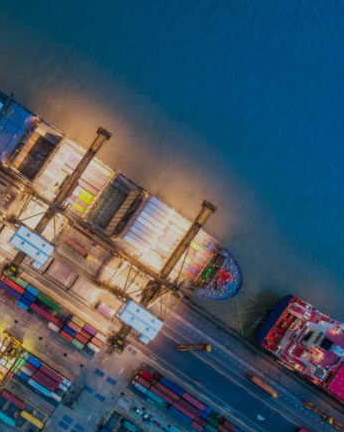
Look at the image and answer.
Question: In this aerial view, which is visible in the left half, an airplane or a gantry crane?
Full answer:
The feature located in the left half is a gantry crane.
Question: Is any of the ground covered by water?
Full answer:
Yes, there is water in the image.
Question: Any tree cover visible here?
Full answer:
No, the scene doesn't show any tree cover.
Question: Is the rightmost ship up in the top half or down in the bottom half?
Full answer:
The rightmost ship is in the bottom half of the image.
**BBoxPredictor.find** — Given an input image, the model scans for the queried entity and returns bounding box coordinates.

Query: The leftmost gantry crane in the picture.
[0,328,29,388]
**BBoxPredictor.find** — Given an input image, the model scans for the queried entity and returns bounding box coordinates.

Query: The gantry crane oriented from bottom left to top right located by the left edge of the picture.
[1,126,110,273]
